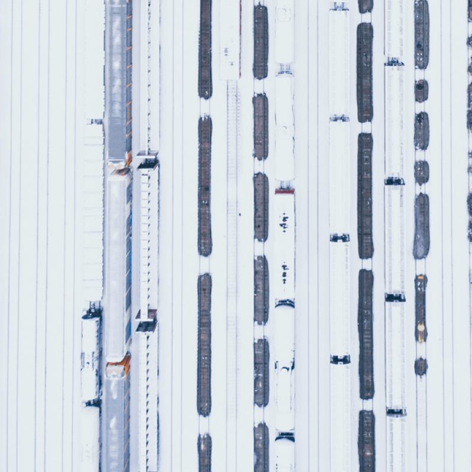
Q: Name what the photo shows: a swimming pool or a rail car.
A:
rail car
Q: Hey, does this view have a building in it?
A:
No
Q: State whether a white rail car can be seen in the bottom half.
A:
Yes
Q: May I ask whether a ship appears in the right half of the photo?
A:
No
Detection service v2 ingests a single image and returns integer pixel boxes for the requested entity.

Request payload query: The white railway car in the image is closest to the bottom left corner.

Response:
[79,398,103,472]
